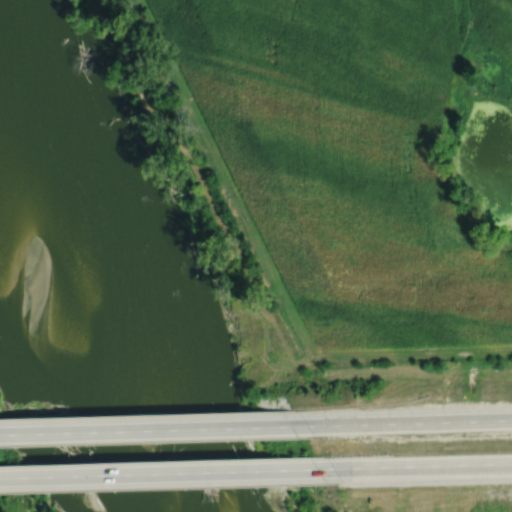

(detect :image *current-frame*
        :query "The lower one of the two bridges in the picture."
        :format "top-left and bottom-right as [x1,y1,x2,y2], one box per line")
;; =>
[0,458,340,495]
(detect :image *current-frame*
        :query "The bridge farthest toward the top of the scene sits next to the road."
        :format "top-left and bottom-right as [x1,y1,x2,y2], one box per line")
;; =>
[0,410,318,448]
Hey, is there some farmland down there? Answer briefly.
Yes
